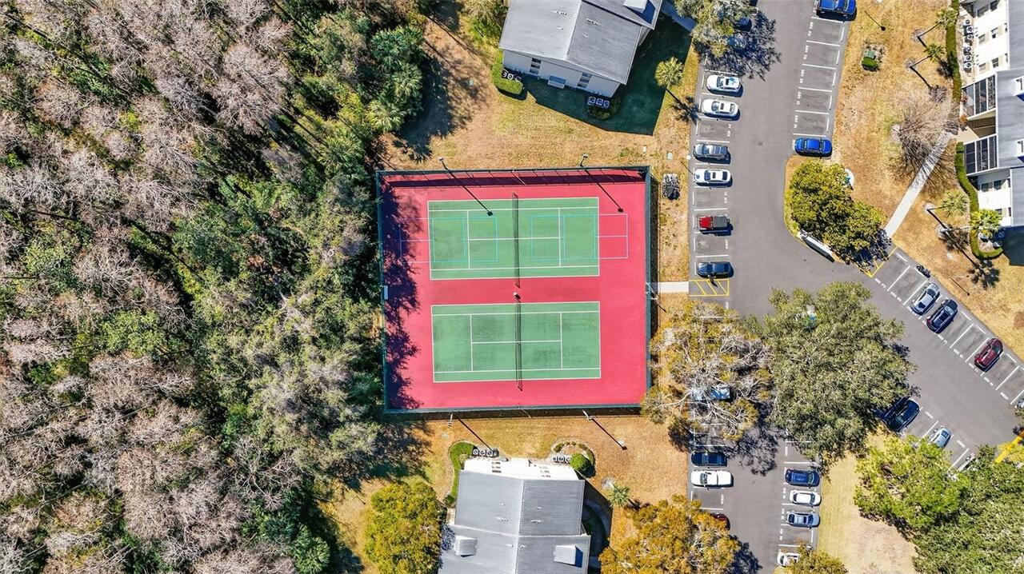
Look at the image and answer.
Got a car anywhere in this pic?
Yes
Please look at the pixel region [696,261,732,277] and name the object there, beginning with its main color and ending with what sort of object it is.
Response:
blue car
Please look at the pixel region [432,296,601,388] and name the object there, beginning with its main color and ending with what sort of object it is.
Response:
green tennis court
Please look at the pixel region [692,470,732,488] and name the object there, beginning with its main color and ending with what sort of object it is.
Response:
white vehicle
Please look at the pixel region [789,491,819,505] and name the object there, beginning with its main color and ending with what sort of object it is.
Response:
white car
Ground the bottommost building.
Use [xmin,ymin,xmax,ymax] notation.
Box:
[437,459,593,574]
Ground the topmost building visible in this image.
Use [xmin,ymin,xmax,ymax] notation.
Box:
[498,0,657,96]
